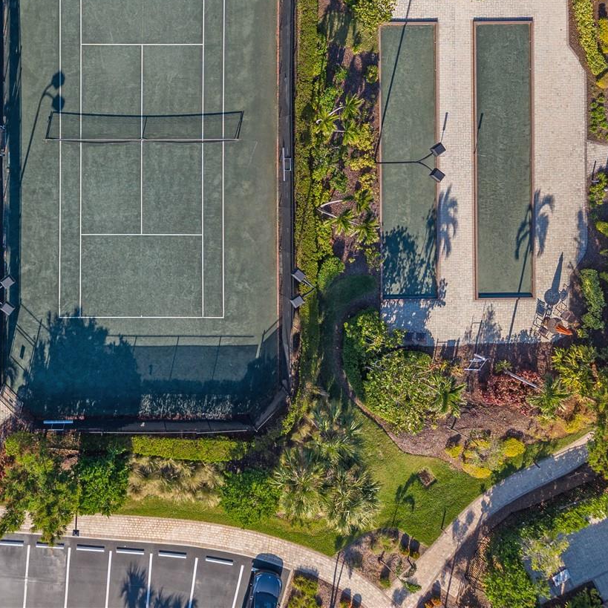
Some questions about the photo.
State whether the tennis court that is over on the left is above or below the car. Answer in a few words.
above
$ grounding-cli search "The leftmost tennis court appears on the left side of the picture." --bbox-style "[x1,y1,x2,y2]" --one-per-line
[8,0,280,419]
